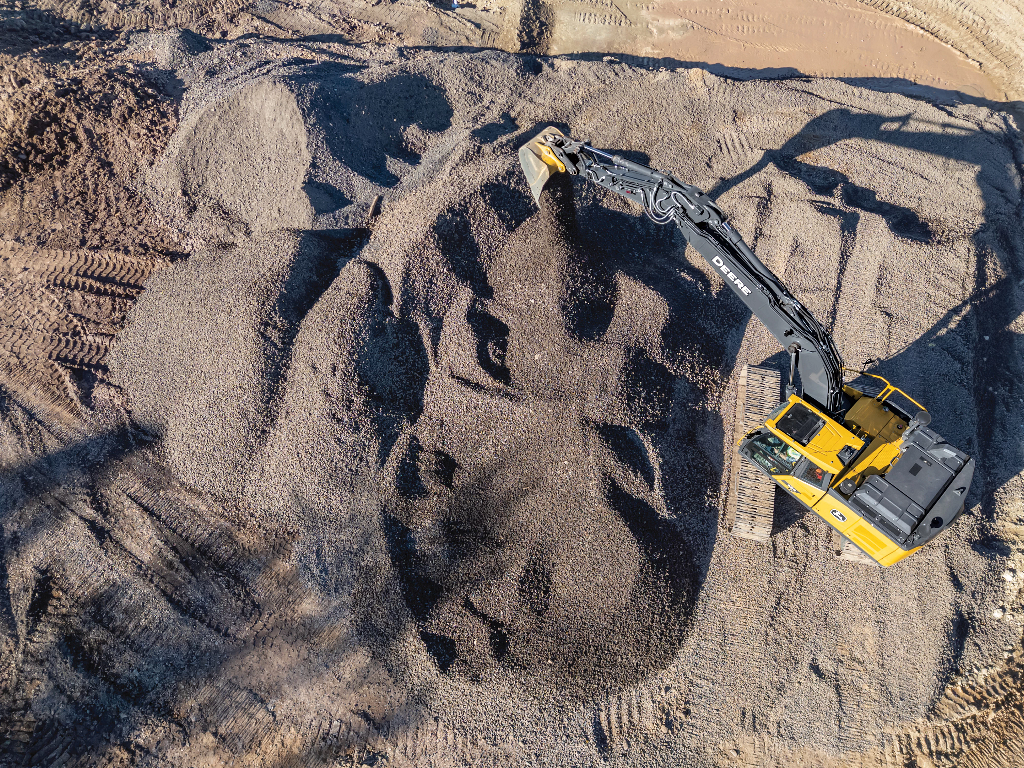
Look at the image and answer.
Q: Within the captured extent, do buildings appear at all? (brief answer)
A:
No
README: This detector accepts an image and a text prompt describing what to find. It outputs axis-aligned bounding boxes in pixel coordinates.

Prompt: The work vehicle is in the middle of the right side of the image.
[518,119,972,570]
